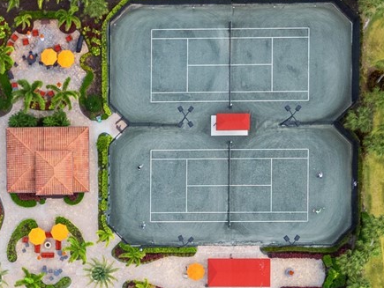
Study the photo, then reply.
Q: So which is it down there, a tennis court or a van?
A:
tennis court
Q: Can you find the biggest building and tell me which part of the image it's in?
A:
left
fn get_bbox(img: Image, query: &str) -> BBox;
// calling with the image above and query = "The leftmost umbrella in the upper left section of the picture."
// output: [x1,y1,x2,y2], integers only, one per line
[42,49,57,65]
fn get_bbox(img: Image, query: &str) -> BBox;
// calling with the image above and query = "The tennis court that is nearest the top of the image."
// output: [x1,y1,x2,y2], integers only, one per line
[111,3,352,124]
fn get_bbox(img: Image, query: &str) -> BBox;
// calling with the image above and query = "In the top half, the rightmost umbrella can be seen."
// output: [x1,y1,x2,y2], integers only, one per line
[58,51,73,67]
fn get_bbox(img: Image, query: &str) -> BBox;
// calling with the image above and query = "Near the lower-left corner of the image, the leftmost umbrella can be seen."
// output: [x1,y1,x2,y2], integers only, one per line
[29,229,45,245]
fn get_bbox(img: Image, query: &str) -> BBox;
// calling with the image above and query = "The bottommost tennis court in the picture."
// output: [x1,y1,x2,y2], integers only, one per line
[111,123,352,244]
